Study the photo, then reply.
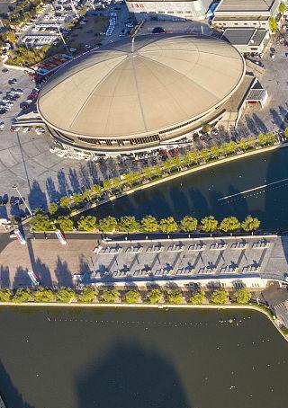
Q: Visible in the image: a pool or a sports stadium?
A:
sports stadium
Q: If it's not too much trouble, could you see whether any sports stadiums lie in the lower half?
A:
No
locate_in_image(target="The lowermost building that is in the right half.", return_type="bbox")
[248,75,269,105]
